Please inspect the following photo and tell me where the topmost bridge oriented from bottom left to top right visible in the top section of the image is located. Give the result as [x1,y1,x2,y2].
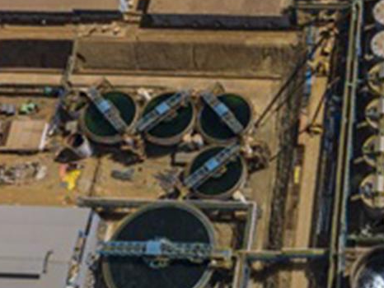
[134,88,194,137]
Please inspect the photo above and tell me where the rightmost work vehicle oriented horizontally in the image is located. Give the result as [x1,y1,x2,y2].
[20,101,39,113]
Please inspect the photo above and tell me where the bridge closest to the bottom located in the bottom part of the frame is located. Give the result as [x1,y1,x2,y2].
[91,241,228,259]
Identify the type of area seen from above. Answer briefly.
industrial area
